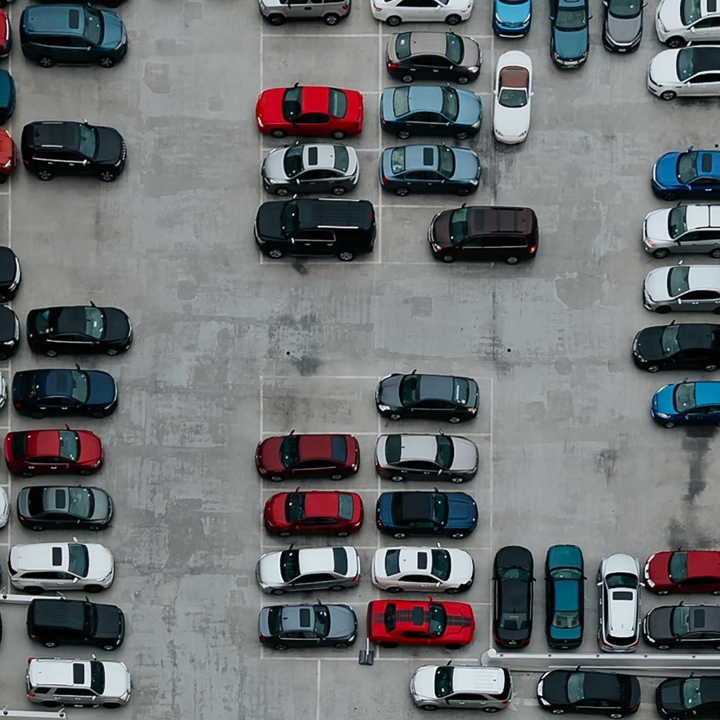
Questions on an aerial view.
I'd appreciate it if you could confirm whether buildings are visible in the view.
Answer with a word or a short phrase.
No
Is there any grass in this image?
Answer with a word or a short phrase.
No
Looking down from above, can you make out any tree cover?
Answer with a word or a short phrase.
No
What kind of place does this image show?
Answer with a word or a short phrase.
parking lot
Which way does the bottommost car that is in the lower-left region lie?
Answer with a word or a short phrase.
from side to side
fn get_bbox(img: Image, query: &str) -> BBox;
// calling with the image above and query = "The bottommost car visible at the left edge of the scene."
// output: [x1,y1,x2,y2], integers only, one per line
[24,651,132,707]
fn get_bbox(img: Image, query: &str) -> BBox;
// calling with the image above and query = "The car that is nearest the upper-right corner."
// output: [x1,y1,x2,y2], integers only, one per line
[655,0,720,47]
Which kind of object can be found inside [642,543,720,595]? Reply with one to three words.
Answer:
car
